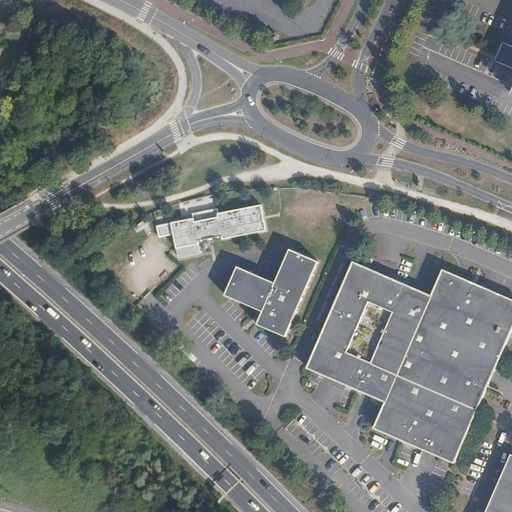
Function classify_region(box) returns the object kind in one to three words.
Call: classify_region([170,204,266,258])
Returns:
building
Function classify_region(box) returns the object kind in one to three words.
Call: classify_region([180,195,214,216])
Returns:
building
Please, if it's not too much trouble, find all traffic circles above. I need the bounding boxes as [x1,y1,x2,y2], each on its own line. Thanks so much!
[240,66,382,167]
